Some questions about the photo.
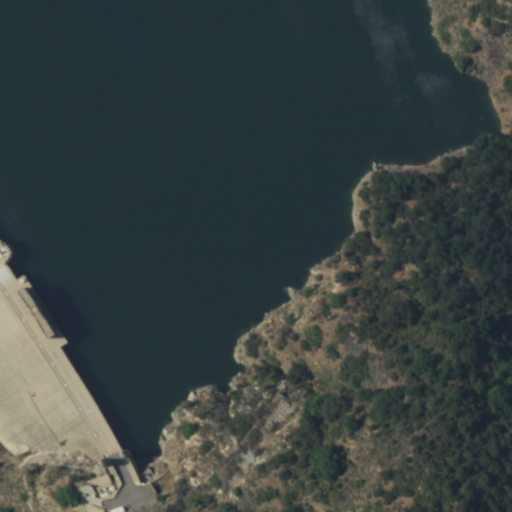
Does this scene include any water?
Yes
